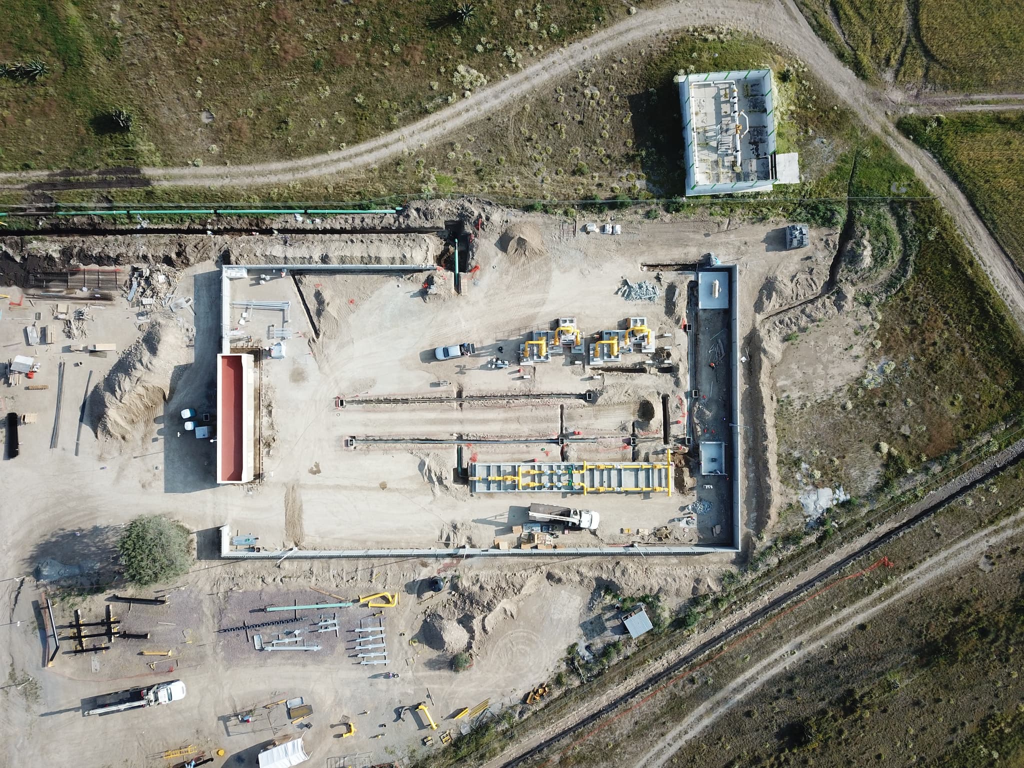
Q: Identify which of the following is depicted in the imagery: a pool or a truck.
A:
truck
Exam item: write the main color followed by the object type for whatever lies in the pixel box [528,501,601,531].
white truck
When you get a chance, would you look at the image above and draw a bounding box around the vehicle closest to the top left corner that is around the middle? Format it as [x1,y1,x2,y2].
[433,343,475,360]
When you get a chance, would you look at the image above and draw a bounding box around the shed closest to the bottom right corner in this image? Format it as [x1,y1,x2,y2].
[620,602,653,639]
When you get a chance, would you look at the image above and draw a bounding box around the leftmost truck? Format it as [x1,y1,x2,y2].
[83,680,190,717]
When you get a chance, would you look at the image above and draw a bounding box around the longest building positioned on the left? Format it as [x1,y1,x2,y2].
[212,353,262,484]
